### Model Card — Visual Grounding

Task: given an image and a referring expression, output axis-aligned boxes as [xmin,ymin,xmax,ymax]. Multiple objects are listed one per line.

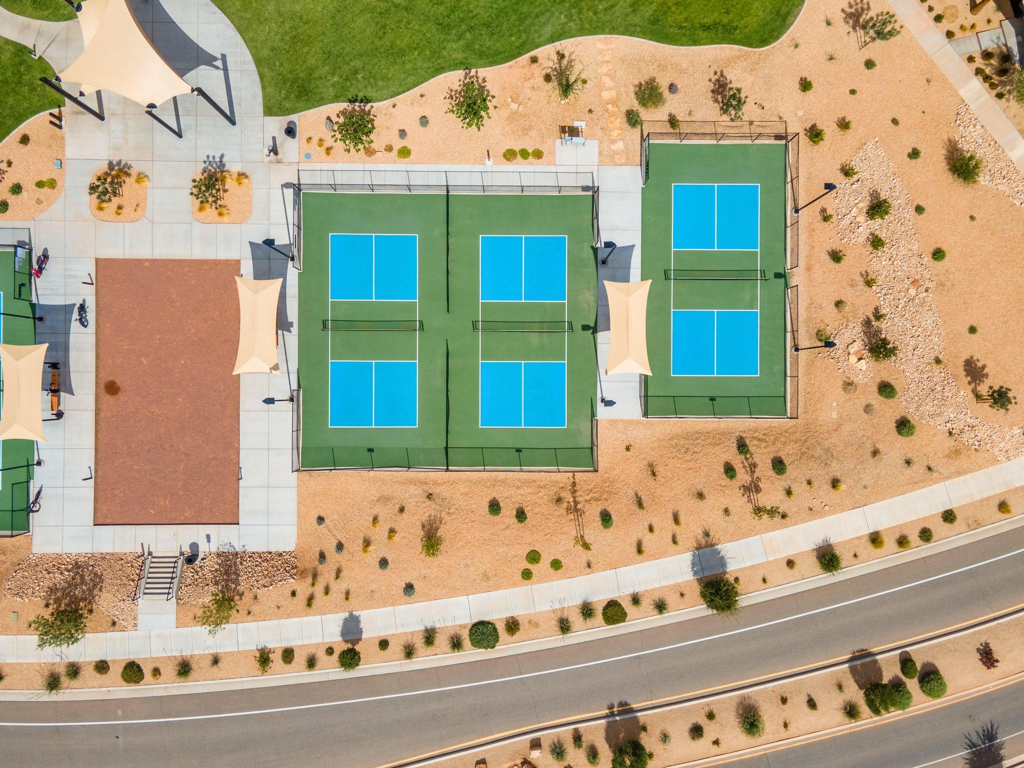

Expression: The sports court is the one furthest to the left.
[0,249,36,535]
